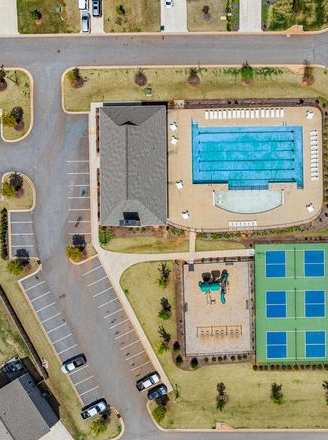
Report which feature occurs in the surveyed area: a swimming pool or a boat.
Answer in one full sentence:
This aerial view contains a swimming pool.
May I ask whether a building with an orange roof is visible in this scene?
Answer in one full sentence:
No, this view has no building with an orange roof in it.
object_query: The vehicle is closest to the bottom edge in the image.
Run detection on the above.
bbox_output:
[82,399,108,418]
